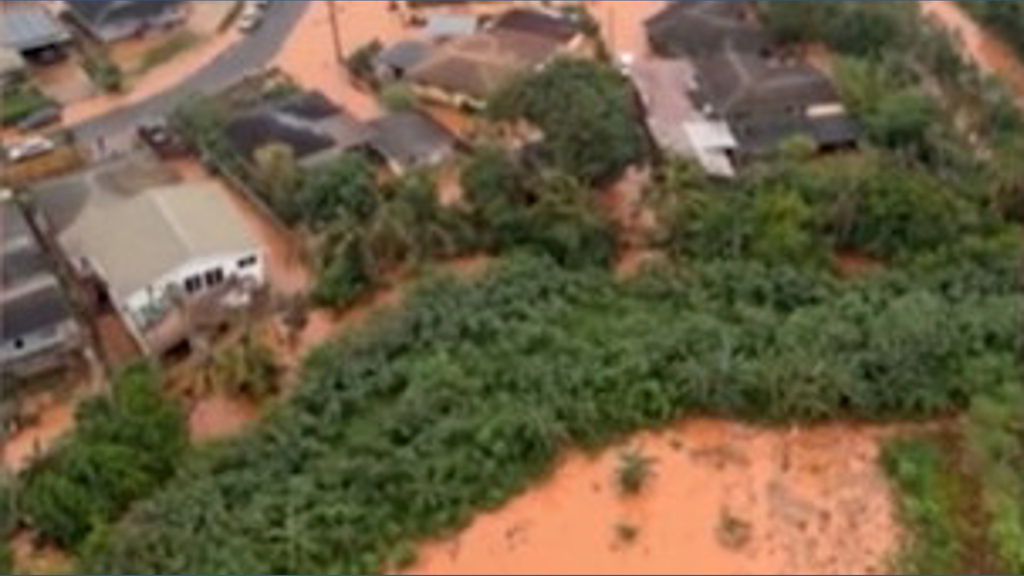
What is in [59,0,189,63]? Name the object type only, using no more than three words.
house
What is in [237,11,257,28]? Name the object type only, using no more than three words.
car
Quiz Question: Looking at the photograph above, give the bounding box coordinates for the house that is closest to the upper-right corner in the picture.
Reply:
[644,0,860,168]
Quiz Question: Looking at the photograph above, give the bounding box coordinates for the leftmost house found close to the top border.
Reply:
[0,5,82,70]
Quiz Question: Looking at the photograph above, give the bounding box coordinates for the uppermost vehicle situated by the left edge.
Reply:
[29,45,56,66]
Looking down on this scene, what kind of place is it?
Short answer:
residential area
